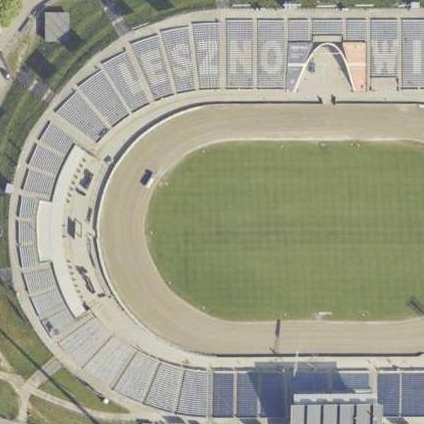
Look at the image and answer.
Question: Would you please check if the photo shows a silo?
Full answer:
No, no silo can be seen from above.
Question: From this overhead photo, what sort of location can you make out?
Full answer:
This image shows a sports ground.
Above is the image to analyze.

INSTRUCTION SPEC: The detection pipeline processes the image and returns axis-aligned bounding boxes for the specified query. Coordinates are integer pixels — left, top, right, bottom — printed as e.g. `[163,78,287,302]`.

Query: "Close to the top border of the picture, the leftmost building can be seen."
[45,13,69,43]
